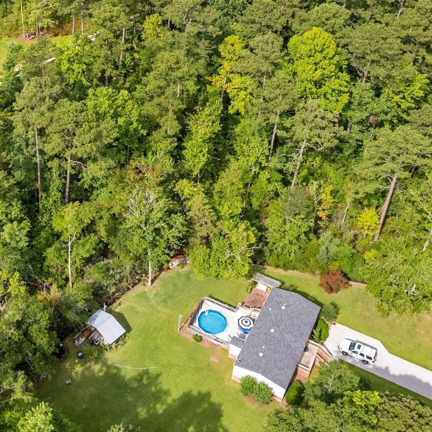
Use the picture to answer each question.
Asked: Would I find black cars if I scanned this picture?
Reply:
No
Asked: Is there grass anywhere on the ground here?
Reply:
Yes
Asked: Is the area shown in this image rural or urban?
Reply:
rural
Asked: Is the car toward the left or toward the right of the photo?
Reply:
right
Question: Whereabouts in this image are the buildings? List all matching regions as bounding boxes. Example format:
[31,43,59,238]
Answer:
[230,287,321,403]
[82,309,128,355]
